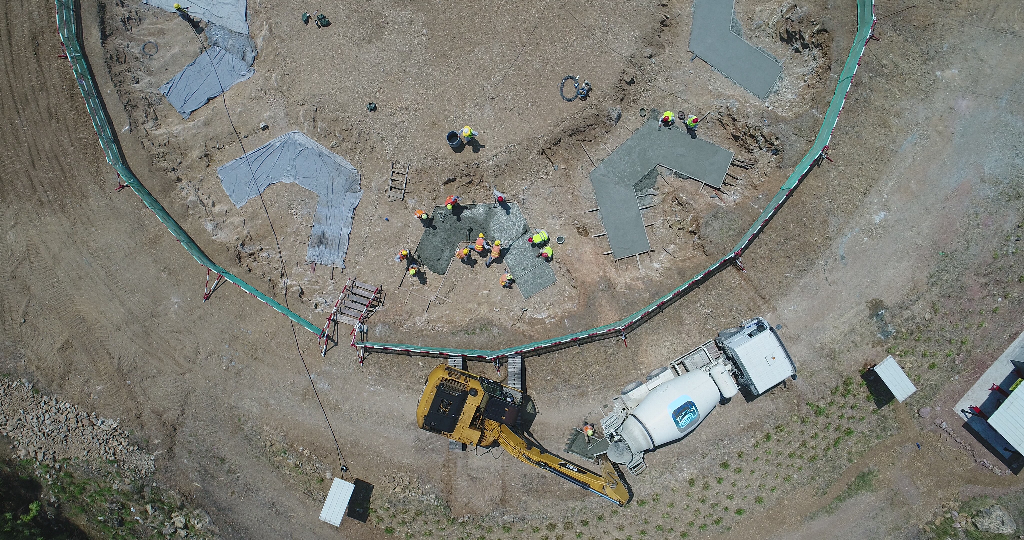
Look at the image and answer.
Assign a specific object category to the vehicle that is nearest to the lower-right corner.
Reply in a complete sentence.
Looking closely, the vehicle that is nearest to the lower-right corner is a truck.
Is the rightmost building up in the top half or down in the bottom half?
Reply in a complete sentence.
It is in the bottom half that the rightmost building appears.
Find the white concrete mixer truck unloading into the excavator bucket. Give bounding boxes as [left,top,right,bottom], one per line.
[585,313,807,477]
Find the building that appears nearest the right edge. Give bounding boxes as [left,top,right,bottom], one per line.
[950,331,1024,476]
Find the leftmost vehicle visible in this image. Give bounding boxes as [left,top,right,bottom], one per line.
[413,352,634,513]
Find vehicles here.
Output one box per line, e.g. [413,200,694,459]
[585,313,807,477]
[413,352,634,513]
